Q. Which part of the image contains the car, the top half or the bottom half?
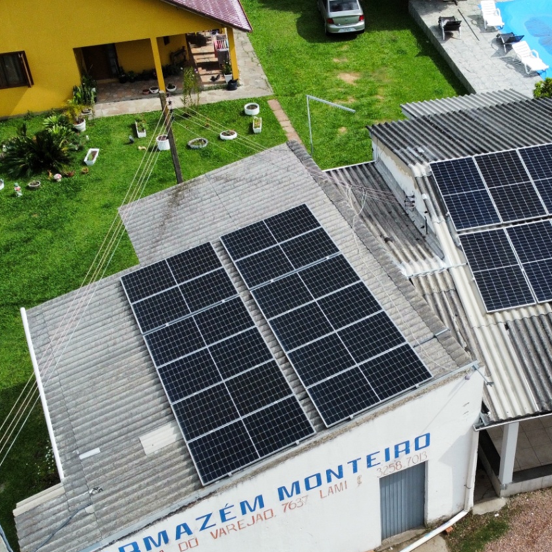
top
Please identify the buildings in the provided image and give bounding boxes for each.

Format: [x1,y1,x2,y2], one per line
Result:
[0,0,271,119]
[11,133,512,552]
